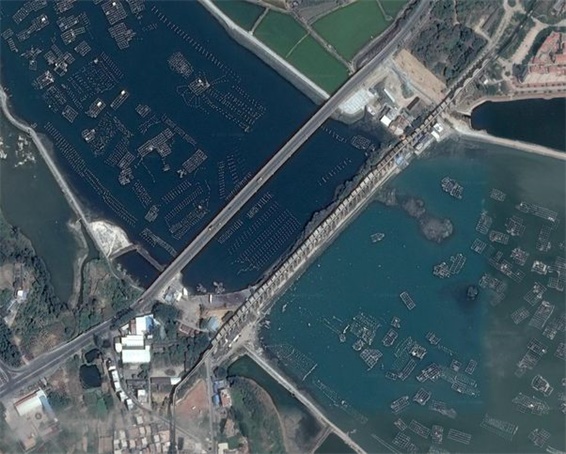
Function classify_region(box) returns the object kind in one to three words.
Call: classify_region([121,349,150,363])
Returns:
building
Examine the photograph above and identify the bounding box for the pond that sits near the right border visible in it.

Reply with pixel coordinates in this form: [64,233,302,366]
[469,97,566,151]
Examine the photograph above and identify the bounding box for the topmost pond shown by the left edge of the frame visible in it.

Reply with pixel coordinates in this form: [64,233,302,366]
[0,97,99,309]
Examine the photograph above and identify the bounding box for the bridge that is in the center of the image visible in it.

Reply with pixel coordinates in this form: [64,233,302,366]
[163,112,325,281]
